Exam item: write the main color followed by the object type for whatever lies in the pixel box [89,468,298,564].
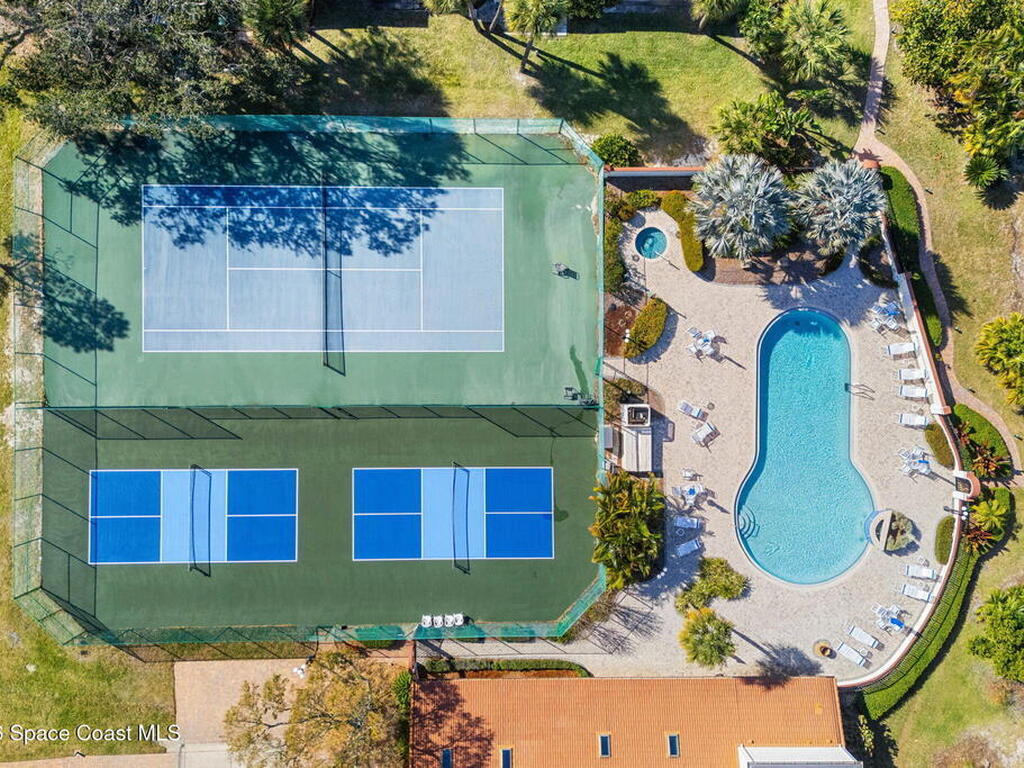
blue sports court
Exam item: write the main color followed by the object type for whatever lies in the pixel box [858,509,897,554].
white fountain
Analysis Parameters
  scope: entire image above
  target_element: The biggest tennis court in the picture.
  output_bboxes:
[42,130,598,406]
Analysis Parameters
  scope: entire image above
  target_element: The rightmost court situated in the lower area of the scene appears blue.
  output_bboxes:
[352,466,554,561]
